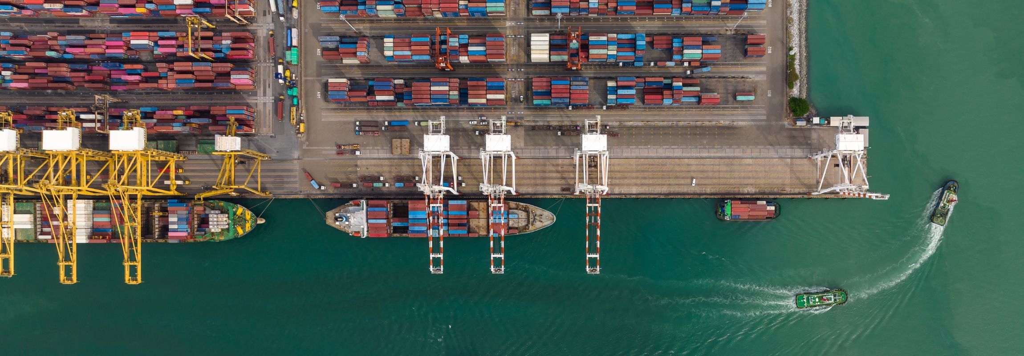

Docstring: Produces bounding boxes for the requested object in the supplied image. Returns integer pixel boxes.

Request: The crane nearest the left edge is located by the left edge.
[0,112,74,285]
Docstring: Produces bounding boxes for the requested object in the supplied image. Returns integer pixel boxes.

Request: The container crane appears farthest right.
[801,112,891,200]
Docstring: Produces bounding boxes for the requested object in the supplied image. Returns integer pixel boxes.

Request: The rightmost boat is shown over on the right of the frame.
[930,180,957,227]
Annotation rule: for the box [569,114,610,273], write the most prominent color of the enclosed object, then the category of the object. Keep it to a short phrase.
white container crane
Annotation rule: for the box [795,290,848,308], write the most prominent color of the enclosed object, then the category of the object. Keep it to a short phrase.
green boat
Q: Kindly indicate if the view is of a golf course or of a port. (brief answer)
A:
port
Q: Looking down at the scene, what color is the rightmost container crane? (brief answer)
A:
white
